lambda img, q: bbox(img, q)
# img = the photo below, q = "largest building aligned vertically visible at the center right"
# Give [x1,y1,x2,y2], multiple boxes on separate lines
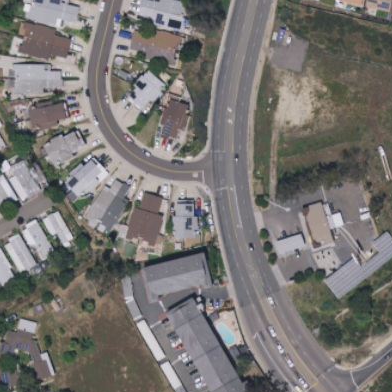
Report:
[304,202,334,250]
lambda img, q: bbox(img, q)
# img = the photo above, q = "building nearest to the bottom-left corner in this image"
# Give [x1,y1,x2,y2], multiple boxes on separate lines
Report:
[0,319,54,388]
